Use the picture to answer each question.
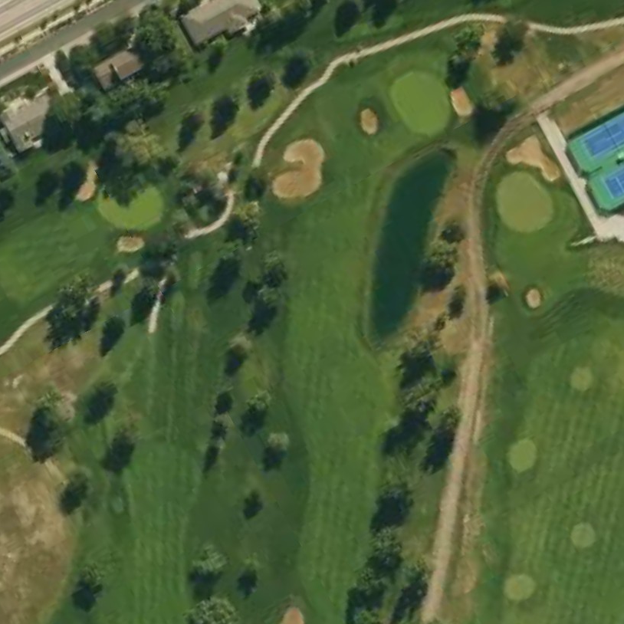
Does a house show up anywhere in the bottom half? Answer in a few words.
No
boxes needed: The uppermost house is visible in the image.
[176,0,263,47]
